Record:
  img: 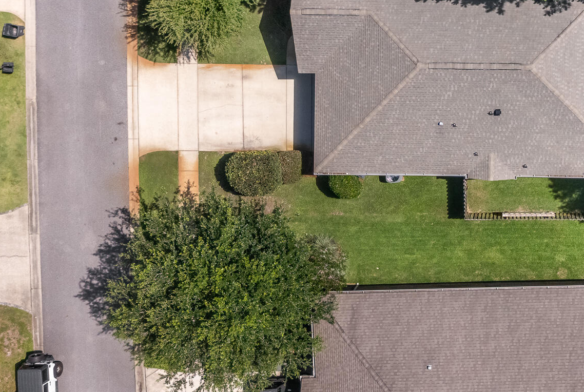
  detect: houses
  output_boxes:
[298,280,584,392]
[291,0,584,181]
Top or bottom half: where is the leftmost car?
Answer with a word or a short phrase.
bottom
